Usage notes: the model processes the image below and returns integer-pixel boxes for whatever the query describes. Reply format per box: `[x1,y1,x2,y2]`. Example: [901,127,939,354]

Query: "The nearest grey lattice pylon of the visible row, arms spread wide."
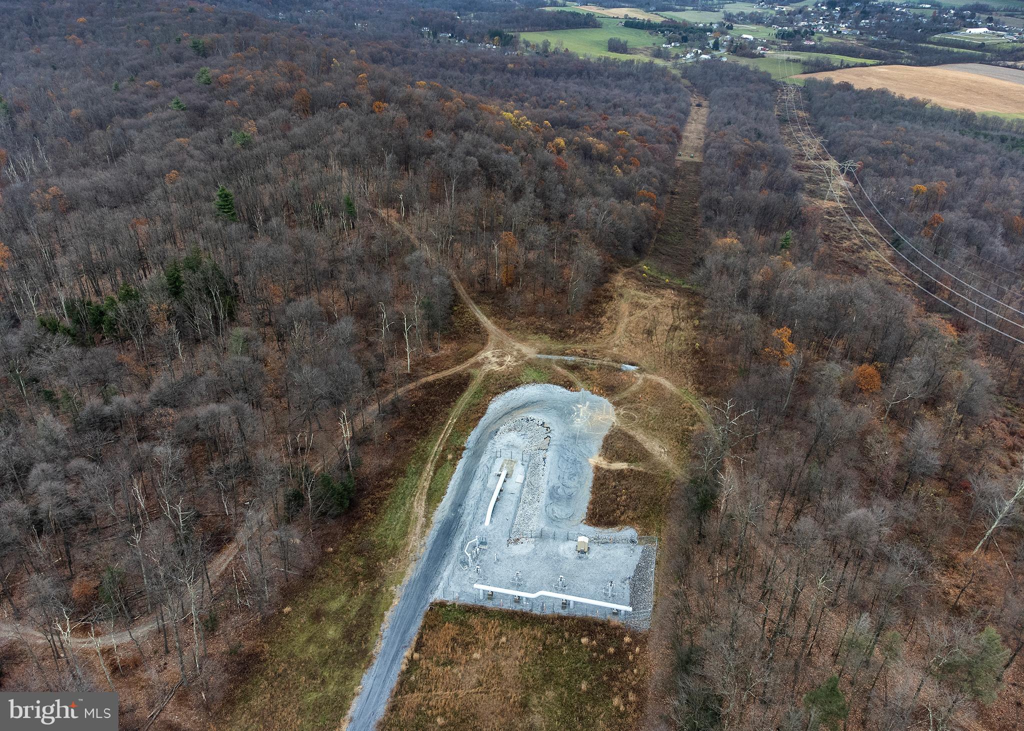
[819,159,862,206]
